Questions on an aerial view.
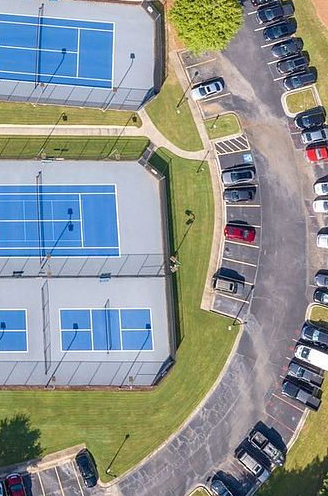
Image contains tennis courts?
Yes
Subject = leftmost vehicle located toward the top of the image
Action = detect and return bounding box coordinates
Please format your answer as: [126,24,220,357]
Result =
[191,81,224,98]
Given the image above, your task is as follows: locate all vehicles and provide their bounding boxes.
[222,187,257,202]
[7,468,24,496]
[303,143,328,159]
[313,179,328,195]
[270,39,304,56]
[222,226,256,241]
[220,170,256,185]
[299,128,328,143]
[211,278,243,294]
[210,476,236,496]
[258,2,299,23]
[75,450,96,488]
[191,81,224,98]
[315,234,328,248]
[293,344,328,371]
[246,431,287,466]
[262,21,296,38]
[282,70,317,88]
[282,360,328,391]
[310,290,328,306]
[237,451,271,481]
[272,53,314,74]
[312,199,328,214]
[292,111,327,128]
[299,323,328,347]
[249,0,275,6]
[277,380,322,413]
[313,272,328,286]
